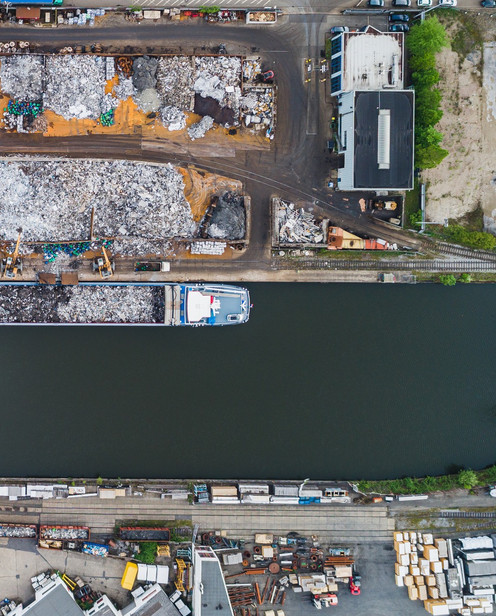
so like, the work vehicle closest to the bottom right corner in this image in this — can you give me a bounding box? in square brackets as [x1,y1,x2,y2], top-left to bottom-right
[347,569,362,600]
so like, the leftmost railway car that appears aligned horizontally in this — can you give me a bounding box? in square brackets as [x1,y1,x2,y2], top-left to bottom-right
[0,523,39,538]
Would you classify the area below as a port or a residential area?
port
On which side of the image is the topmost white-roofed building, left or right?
right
